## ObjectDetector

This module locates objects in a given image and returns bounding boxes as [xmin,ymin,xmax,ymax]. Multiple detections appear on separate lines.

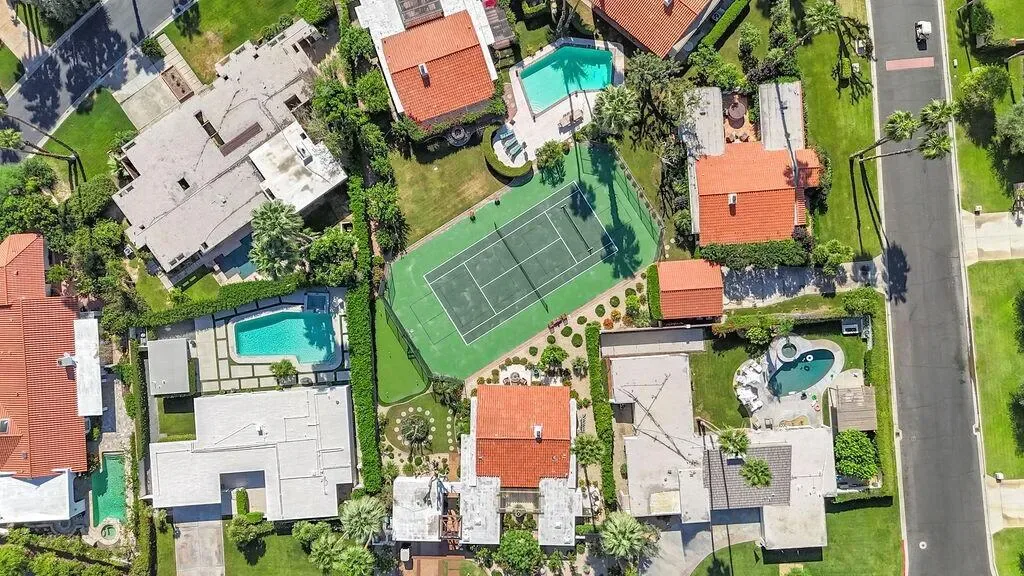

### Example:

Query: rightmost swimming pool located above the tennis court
[519,43,615,115]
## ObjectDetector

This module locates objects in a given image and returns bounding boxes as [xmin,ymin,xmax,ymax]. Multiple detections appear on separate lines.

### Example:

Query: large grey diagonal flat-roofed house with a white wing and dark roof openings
[111,19,348,272]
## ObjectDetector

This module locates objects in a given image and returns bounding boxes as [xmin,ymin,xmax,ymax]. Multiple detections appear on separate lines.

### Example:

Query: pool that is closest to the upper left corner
[215,236,261,279]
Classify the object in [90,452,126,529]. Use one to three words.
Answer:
swimming pool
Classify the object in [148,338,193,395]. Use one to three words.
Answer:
building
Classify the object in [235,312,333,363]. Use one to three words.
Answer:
swimming pool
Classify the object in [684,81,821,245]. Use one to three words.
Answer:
house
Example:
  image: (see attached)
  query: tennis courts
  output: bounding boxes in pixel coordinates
[384,139,663,381]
